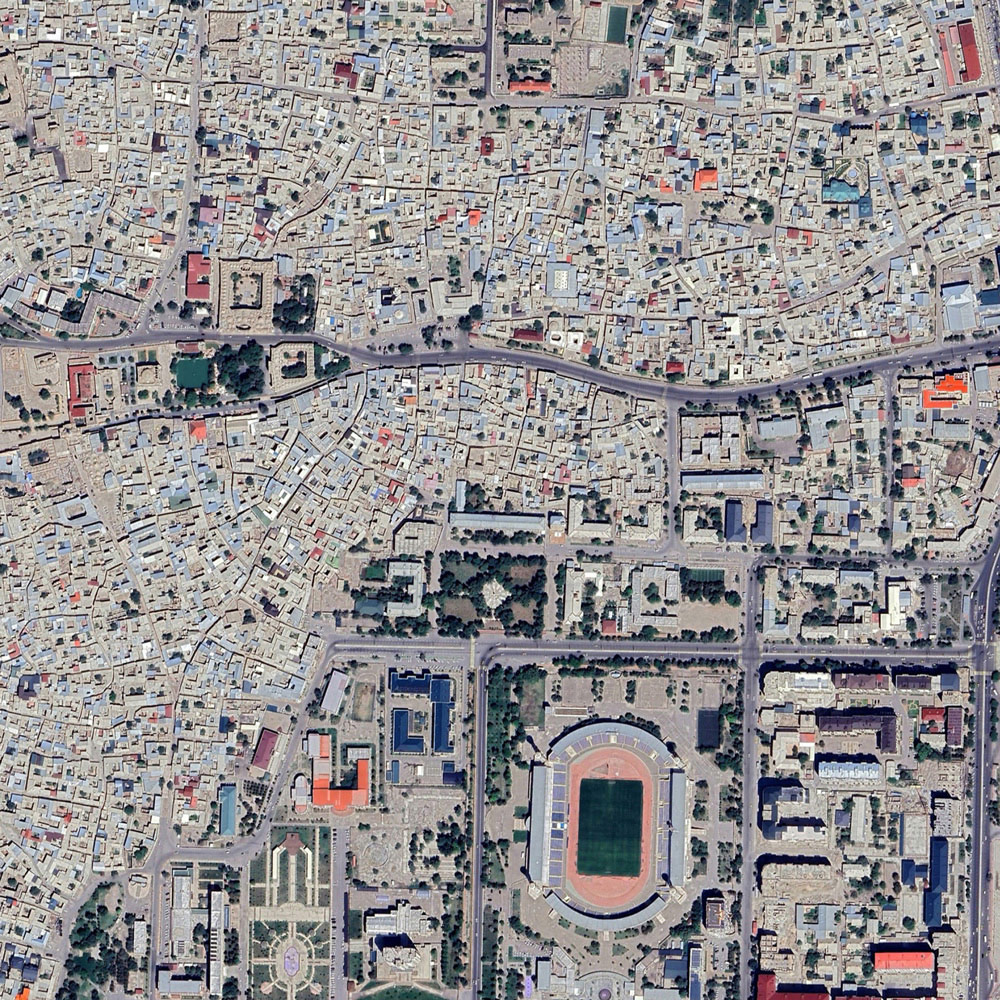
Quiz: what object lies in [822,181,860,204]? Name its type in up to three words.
house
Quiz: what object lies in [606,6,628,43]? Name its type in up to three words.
sports court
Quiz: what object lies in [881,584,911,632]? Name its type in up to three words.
building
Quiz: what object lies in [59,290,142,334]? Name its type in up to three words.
building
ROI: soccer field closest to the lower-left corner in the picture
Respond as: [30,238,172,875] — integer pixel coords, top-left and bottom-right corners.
[354,682,374,721]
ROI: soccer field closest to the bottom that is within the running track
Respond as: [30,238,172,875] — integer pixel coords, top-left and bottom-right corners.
[578,779,643,876]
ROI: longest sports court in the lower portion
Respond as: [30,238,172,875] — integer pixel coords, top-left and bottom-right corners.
[698,710,718,748]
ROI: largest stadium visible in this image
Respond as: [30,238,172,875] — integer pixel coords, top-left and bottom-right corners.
[525,720,701,943]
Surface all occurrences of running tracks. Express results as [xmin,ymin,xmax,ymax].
[562,744,658,907]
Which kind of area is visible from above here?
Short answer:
residential area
